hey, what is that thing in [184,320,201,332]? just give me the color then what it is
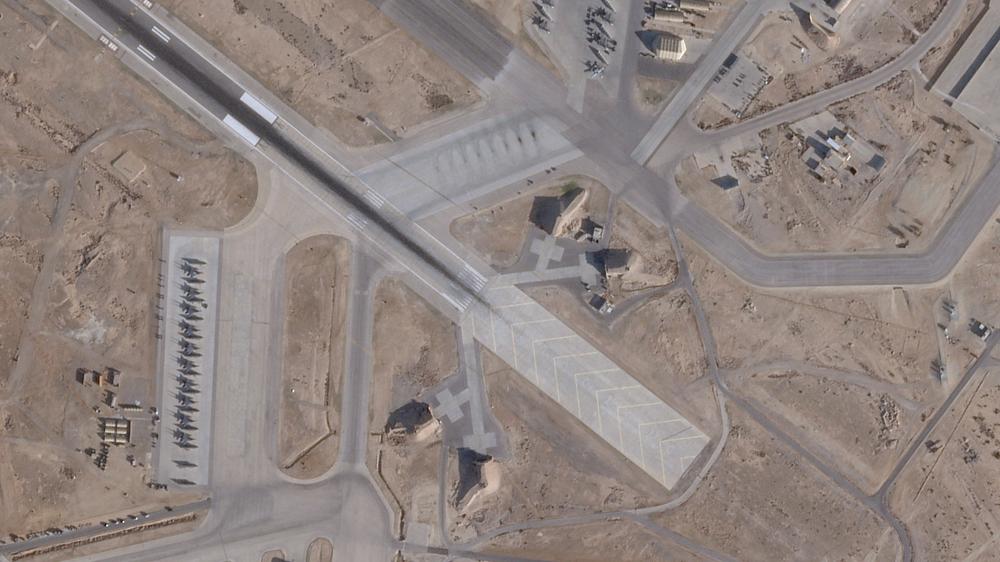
gray airplane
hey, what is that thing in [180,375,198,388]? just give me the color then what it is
gray airplane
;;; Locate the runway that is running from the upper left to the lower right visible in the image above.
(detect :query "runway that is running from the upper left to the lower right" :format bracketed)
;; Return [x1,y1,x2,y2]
[68,0,490,314]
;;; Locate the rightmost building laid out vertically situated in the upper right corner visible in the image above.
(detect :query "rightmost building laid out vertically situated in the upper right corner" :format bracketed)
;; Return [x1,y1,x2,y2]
[958,39,1000,135]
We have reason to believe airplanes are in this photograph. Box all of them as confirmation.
[187,264,205,277]
[180,375,198,388]
[184,320,201,332]
[179,394,197,407]
[590,35,607,49]
[535,0,553,7]
[185,302,202,314]
[531,19,549,32]
[186,283,204,295]
[183,339,200,351]
[178,412,196,425]
[594,11,612,24]
[181,357,199,369]
[177,431,195,443]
